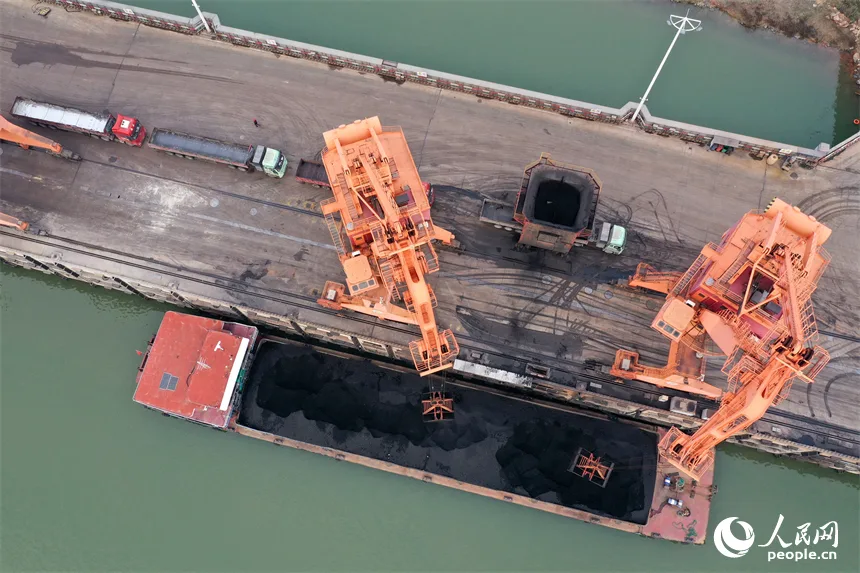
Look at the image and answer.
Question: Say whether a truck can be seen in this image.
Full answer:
Yes, the picture does show a truck.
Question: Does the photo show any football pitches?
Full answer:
No, there's no football pitch here.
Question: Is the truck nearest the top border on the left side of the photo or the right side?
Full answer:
You can find the truck nearest the top border on the left side of the picture.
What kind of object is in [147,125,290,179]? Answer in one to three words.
truck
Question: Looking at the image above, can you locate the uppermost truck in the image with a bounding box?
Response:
[10,93,152,147]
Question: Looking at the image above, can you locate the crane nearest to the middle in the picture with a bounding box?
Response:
[316,113,472,376]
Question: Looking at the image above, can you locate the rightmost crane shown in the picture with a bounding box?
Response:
[591,198,831,483]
